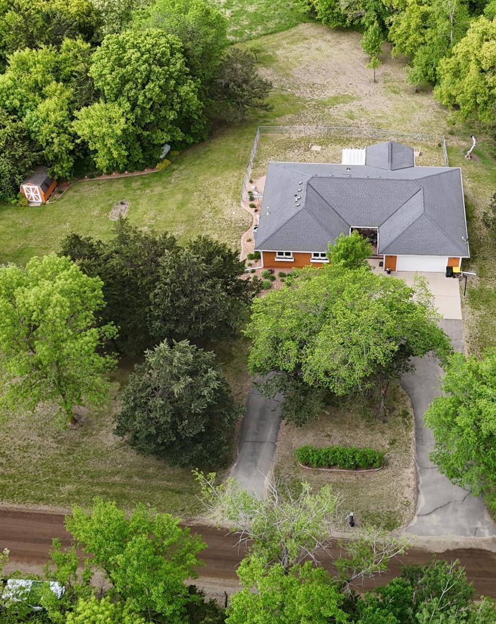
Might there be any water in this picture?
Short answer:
No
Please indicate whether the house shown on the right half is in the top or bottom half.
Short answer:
top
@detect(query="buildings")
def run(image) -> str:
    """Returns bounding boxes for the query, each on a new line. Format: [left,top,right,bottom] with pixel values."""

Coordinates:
[253,141,476,276]
[18,162,56,206]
